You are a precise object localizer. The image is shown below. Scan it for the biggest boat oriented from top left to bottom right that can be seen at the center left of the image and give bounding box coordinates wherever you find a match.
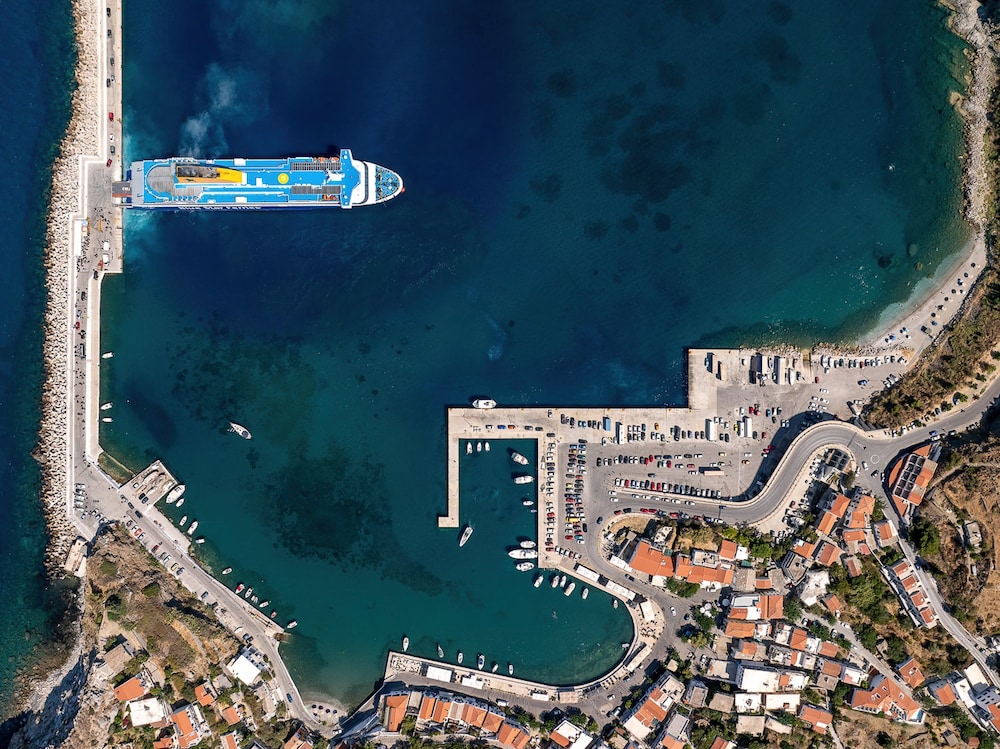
[229,424,251,439]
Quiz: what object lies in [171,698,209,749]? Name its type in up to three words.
house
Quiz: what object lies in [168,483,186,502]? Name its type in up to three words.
boat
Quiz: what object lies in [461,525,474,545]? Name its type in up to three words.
boat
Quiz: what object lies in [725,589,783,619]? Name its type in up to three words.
building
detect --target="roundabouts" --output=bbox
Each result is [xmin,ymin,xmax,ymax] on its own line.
[852,439,896,484]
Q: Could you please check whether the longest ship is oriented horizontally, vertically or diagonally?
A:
horizontally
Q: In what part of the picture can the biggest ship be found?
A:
top left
